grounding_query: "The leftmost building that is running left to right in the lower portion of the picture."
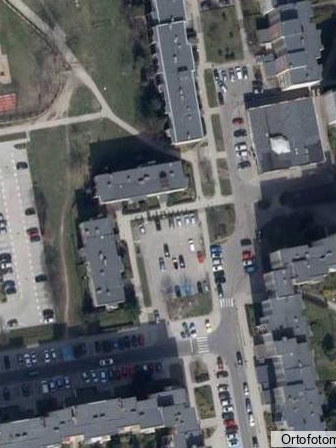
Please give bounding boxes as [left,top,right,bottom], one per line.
[0,388,199,448]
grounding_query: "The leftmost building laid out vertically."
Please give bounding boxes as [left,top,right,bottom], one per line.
[79,216,127,311]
